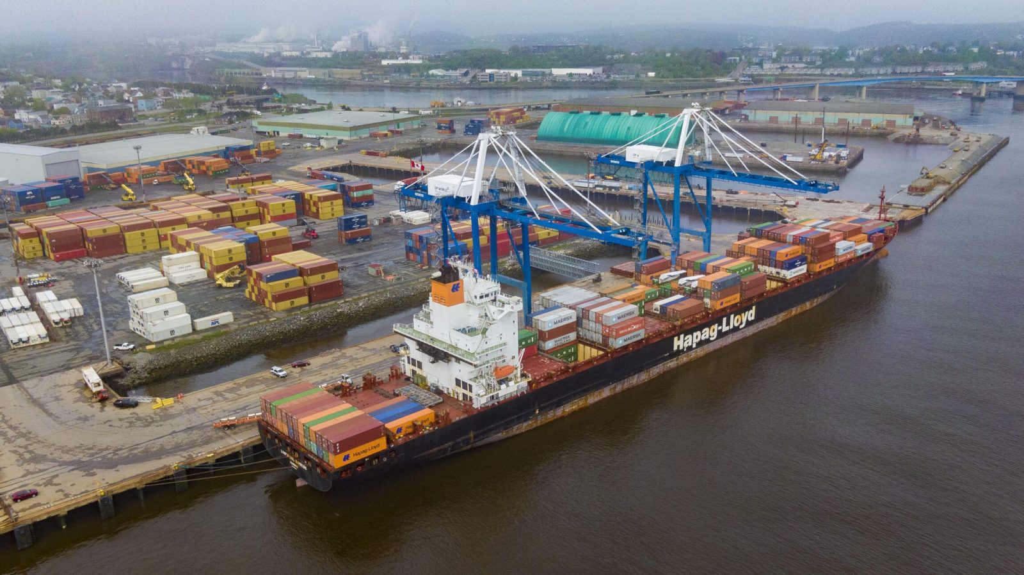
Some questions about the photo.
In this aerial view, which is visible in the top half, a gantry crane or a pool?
gantry crane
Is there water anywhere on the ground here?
Yes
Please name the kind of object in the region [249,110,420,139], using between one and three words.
building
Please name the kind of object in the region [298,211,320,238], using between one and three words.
work vehicle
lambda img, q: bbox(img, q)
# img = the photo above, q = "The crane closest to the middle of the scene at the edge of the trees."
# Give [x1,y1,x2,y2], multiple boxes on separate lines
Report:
[397,125,663,306]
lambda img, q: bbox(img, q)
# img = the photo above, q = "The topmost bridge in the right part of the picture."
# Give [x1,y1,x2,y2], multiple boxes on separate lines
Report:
[486,66,1024,114]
